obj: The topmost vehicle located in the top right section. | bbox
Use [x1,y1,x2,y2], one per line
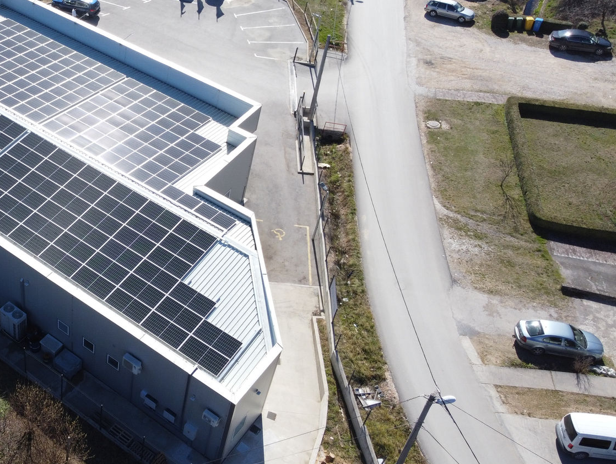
[424,0,476,24]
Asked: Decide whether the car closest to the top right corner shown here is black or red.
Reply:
black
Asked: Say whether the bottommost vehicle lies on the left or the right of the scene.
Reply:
right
